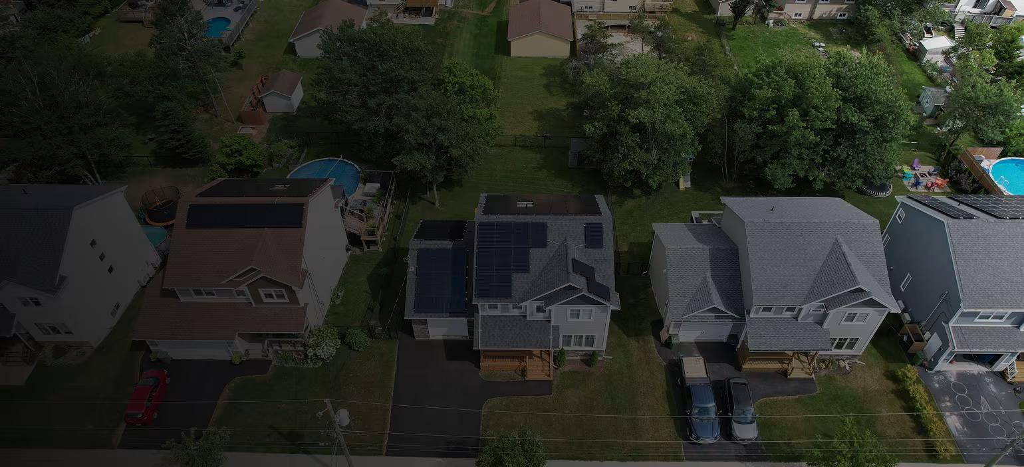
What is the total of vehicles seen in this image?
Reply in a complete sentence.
The picture shows 3 vehicles.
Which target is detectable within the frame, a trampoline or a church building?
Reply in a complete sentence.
The image shows a trampoline.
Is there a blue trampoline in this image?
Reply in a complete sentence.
No, I can see no blue trampoline in this picture.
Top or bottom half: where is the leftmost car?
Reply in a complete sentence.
Seen from above, the leftmost car lies in the bottom half of the view.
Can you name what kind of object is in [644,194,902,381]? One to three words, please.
house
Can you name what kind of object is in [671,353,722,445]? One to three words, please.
truck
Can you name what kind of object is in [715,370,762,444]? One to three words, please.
car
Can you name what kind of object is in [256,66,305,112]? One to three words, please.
shed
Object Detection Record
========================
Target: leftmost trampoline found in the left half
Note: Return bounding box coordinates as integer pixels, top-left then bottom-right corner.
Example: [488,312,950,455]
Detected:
[130,184,181,228]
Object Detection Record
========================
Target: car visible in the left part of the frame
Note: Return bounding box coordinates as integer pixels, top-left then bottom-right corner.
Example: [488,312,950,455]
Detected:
[123,367,174,430]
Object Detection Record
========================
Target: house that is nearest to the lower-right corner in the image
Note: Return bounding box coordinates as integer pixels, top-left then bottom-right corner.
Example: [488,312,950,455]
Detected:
[882,195,1024,371]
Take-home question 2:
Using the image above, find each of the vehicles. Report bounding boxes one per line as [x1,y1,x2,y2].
[123,367,174,430]
[715,370,762,444]
[671,353,722,445]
